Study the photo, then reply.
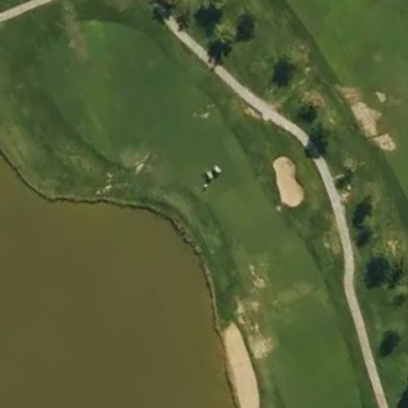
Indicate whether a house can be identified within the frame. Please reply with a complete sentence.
No, I find no house anywhere in the image.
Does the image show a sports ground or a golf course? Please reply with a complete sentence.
What you see here is a golf course.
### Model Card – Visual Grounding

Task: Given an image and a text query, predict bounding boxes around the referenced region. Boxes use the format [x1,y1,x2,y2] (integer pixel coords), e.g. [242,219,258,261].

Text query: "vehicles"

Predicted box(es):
[213,164,222,174]
[206,170,214,180]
